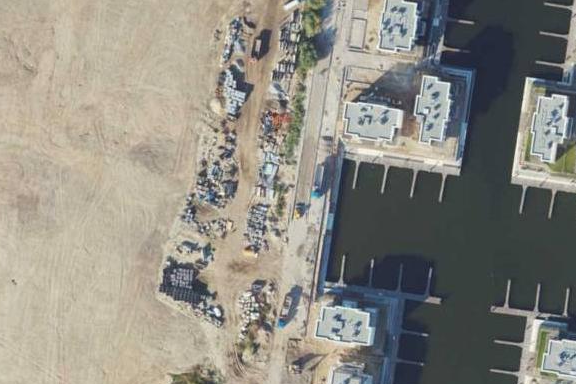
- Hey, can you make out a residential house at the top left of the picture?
No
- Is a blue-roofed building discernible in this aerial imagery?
No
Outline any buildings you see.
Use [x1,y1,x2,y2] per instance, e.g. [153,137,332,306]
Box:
[540,334,576,376]
[414,75,458,143]
[378,0,425,53]
[314,301,374,345]
[343,98,403,141]
[530,95,572,162]
[332,369,373,384]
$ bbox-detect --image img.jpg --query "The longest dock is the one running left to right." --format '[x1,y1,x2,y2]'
[491,306,569,321]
